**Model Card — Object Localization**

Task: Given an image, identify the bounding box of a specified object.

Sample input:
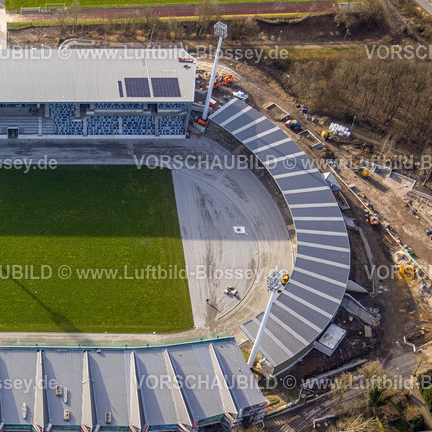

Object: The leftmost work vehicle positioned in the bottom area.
[222,284,242,299]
